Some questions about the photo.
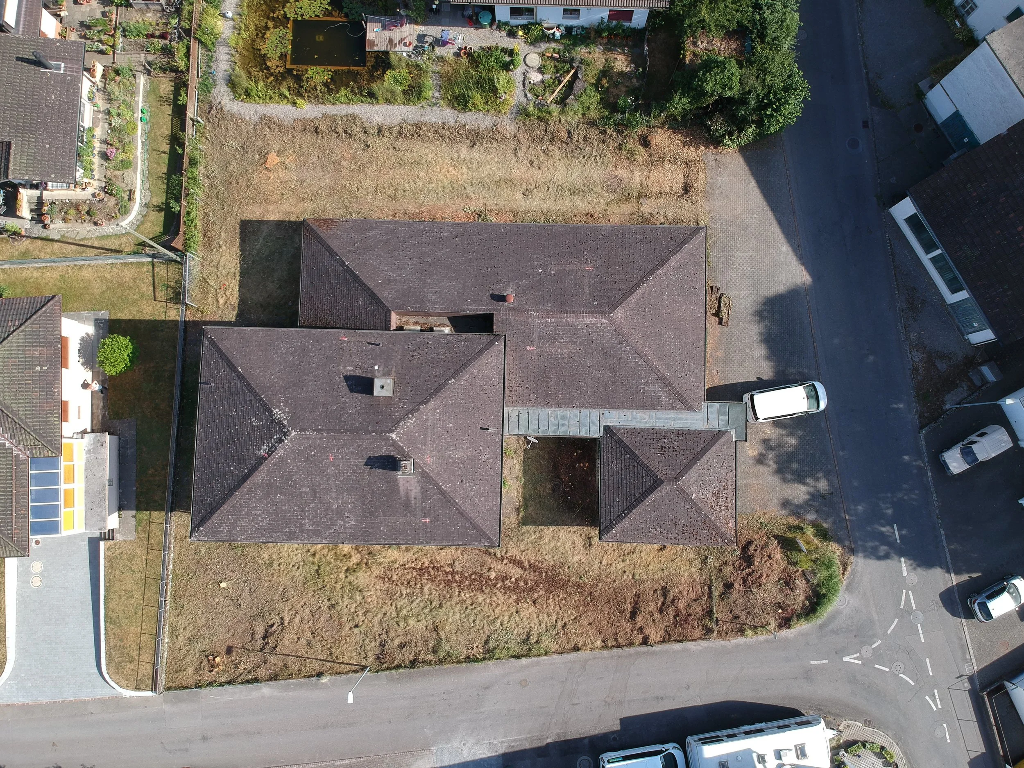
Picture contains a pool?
Yes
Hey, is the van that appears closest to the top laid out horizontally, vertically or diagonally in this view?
horizontally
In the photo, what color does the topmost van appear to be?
white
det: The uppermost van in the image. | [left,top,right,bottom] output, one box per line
[742,379,828,424]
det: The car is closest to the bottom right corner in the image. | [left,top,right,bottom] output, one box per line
[968,566,1024,624]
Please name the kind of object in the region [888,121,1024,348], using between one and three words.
barn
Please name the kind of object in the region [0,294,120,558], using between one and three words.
house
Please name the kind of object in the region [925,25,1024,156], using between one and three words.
building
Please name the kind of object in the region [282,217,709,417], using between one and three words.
house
